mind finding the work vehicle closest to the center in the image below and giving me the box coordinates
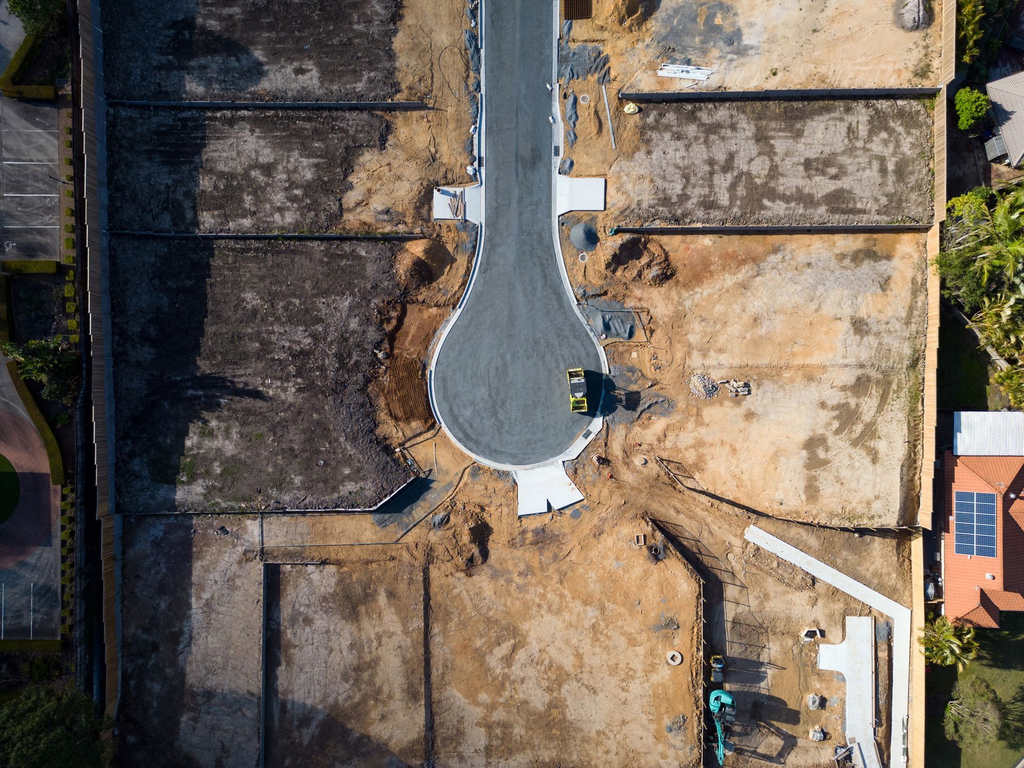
[568,368,590,415]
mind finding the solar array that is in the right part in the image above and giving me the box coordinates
[955,492,996,556]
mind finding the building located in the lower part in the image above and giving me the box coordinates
[933,411,1024,628]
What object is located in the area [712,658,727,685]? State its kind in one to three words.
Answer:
work vehicle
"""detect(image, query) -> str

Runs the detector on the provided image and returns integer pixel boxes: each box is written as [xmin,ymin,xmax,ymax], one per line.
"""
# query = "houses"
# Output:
[933,411,1024,628]
[982,70,1024,169]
